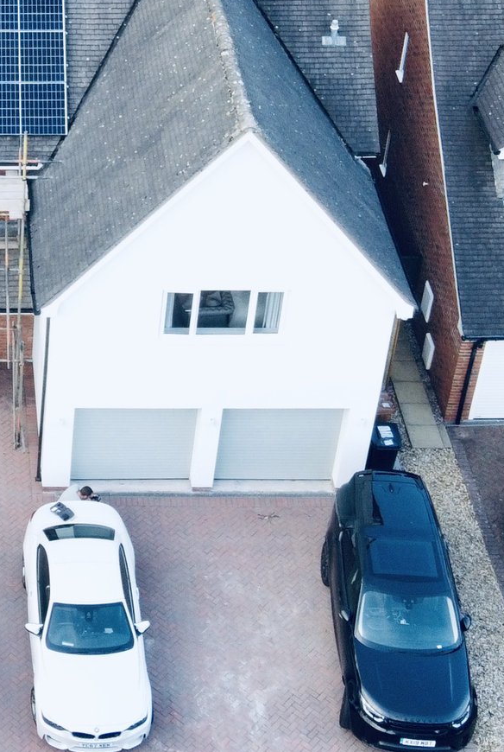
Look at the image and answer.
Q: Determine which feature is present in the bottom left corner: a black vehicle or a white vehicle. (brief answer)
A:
white vehicle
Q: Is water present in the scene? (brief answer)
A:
No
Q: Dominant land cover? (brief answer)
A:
buildings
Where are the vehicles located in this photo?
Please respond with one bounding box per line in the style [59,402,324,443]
[316,469,484,749]
[20,498,155,752]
